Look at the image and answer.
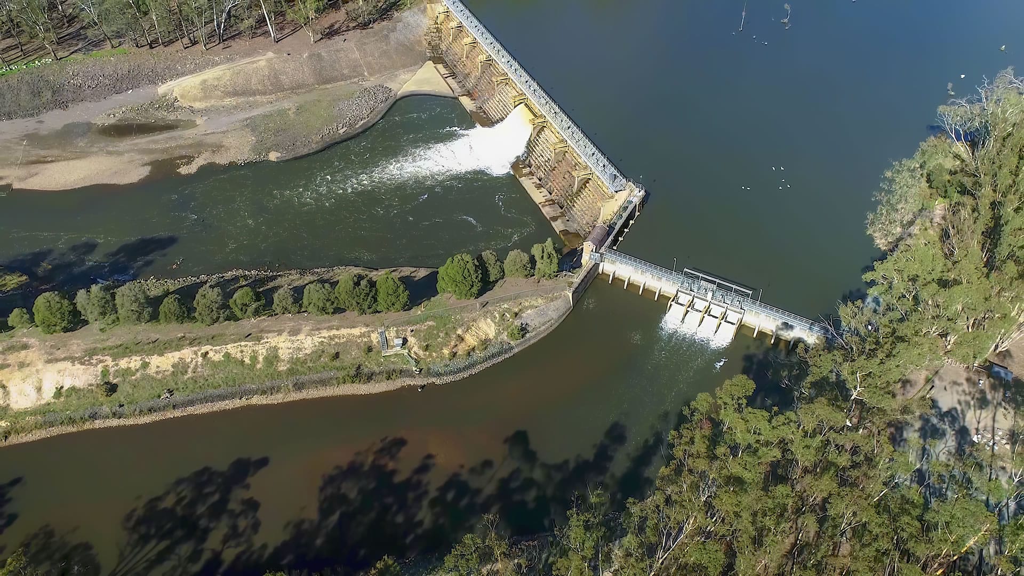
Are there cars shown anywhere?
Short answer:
No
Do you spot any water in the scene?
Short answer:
Yes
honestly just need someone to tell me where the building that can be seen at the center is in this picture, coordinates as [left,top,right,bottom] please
[583,221,609,265]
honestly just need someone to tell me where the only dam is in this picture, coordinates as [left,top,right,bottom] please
[436,0,634,242]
